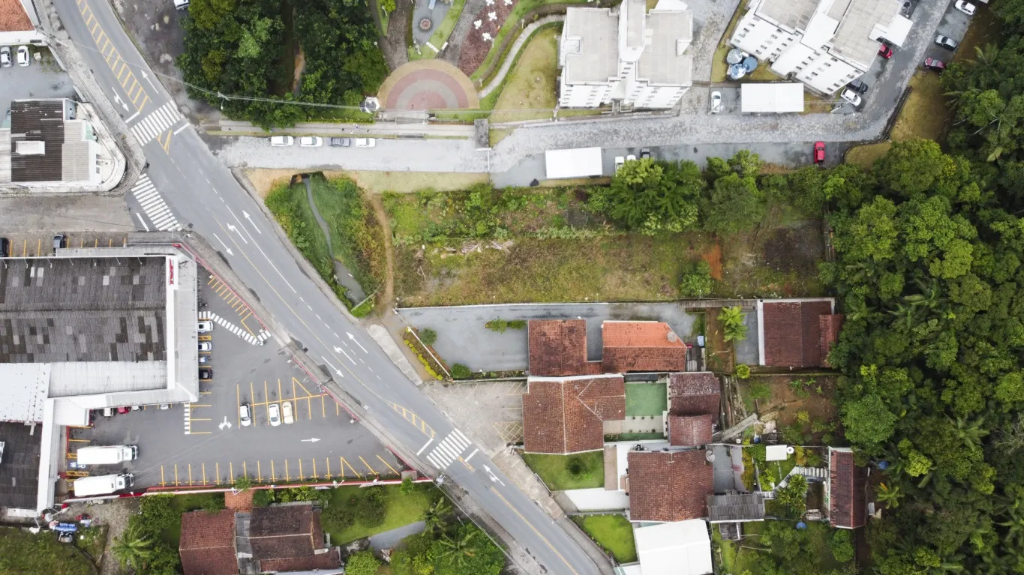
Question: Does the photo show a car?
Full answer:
Yes, there's a car down there.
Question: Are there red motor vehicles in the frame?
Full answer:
Yes, the frame does contain a red motor vehicle.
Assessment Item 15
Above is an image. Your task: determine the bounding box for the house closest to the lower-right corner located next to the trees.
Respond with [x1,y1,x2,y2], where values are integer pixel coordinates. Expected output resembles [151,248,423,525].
[820,443,866,530]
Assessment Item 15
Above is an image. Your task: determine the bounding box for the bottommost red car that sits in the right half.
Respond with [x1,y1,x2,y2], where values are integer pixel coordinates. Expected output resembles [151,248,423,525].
[813,142,825,163]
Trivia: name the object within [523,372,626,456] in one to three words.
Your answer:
house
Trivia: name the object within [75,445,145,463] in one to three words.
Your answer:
vehicle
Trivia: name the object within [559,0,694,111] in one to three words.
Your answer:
building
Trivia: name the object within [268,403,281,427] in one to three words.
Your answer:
vehicle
